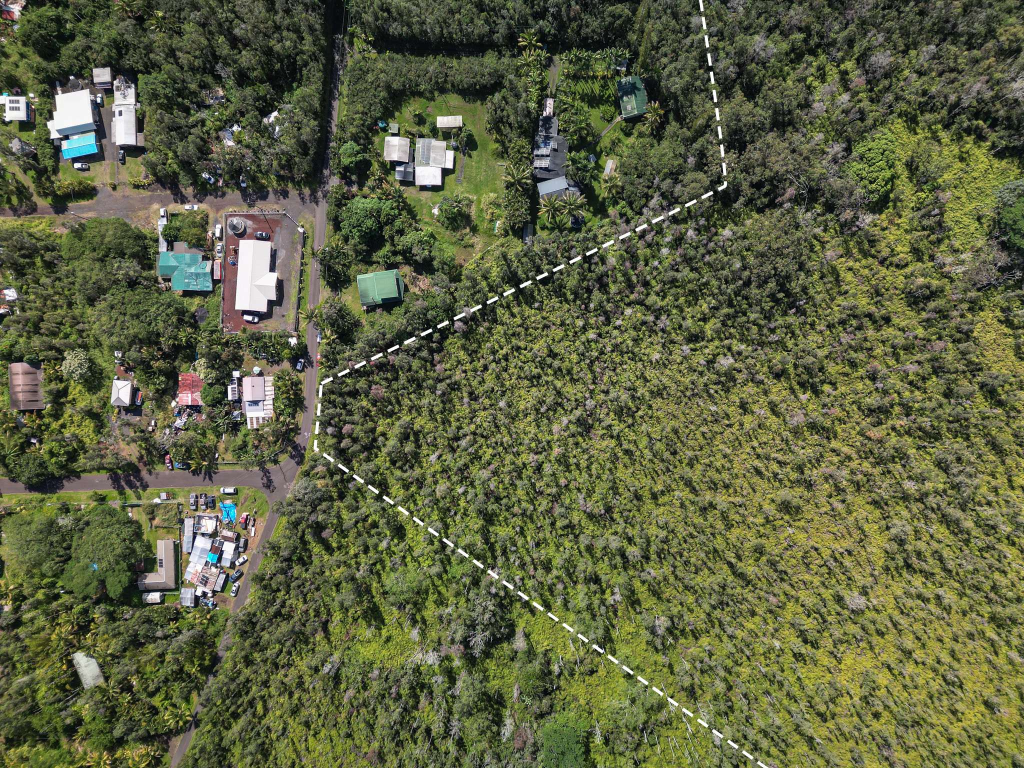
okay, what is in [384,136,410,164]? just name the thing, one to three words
house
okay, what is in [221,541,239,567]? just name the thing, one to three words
shed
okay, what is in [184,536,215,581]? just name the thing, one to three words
building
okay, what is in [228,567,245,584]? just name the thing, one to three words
vehicle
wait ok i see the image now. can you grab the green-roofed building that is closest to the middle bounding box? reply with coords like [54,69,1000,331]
[357,269,404,306]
